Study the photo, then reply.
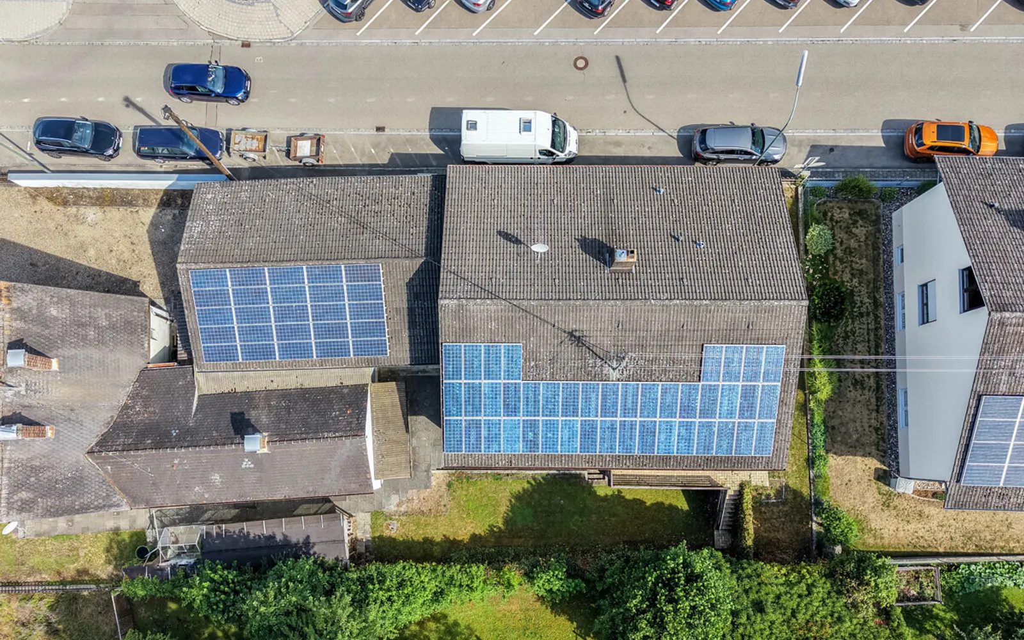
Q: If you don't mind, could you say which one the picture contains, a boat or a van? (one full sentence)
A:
The image shows a van.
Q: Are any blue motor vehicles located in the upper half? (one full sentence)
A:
Yes, the scene does show a blue motor vehicle in the upper half.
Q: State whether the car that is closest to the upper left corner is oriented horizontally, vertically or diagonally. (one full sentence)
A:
What the image shows is the car that is closest to the upper left corner lying horizontally.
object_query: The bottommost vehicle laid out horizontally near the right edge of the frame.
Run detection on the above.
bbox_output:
[903,118,995,161]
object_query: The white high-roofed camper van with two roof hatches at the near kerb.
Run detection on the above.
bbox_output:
[460,116,577,164]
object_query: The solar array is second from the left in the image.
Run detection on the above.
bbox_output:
[442,347,784,455]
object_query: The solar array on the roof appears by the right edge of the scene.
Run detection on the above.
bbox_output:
[961,392,1024,484]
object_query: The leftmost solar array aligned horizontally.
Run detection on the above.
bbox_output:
[192,264,391,362]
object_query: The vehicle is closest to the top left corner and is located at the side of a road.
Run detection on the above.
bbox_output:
[30,117,127,163]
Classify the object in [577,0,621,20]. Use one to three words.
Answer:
car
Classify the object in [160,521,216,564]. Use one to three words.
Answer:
greenhouse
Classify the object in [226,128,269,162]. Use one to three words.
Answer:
trailer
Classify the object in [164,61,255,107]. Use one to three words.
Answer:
car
